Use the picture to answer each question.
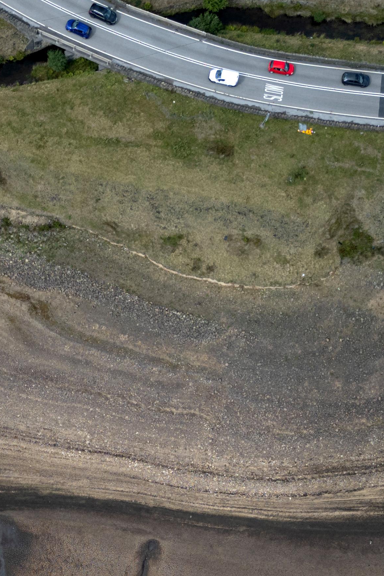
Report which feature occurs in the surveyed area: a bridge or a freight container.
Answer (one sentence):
This aerial view contains a bridge.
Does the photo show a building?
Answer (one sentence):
No, no building is visible in the view.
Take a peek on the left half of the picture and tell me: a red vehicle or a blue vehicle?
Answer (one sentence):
You can see a blue vehicle on the left half of the picture.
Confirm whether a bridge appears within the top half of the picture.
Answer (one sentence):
Yes, a bridge shows up within the top half of the picture.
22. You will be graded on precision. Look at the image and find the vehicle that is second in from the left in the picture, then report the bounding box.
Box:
[88,3,118,25]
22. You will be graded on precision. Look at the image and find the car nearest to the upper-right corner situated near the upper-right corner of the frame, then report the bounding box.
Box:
[342,71,371,88]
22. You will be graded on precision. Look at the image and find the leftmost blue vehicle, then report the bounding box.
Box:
[67,21,93,39]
